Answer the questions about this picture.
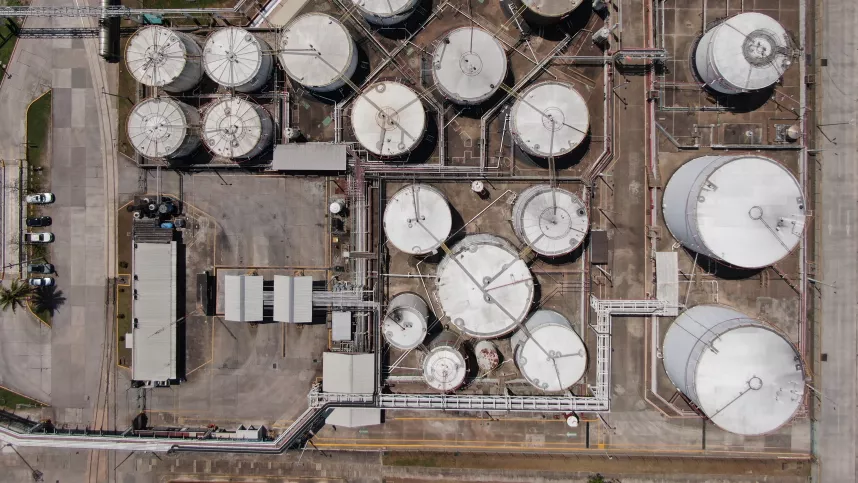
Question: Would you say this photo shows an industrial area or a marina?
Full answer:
This image shows an industrial area.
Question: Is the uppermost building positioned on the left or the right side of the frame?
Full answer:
The uppermost building sits on the left side.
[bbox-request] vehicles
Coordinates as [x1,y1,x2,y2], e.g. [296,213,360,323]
[27,192,57,205]
[28,276,57,288]
[27,262,57,275]
[26,216,54,227]
[24,231,57,244]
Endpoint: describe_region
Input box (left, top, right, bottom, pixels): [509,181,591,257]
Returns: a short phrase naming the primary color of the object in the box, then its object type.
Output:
white storage tank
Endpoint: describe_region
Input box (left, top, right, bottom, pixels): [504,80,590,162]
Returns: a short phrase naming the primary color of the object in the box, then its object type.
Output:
white storage tank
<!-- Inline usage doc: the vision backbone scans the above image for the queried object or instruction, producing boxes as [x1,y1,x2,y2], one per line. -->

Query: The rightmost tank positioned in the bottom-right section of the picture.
[658,299,809,438]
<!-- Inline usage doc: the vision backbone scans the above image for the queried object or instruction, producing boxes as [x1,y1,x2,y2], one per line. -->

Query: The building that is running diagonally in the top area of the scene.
[268,0,320,31]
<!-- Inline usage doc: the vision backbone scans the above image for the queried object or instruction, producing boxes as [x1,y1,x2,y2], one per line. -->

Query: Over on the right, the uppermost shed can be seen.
[589,231,607,264]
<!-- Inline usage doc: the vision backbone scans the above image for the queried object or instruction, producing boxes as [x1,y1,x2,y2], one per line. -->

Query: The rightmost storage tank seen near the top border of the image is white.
[690,10,798,99]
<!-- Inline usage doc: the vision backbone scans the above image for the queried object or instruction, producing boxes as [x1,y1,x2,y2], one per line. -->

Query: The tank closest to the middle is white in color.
[383,180,457,254]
